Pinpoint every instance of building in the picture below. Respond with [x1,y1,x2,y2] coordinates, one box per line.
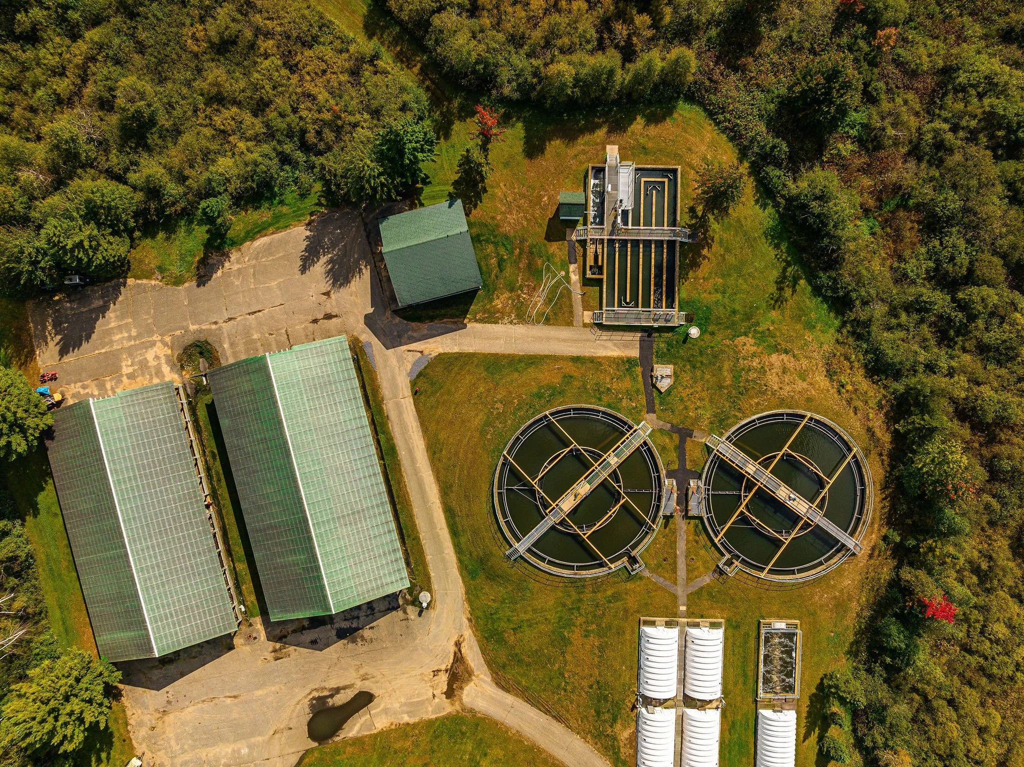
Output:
[42,381,248,666]
[378,199,482,307]
[559,192,586,222]
[207,335,410,622]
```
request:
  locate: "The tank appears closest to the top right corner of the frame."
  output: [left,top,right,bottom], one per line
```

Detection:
[574,145,697,330]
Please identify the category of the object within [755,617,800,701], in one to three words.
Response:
storage tank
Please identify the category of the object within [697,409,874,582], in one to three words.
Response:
storage tank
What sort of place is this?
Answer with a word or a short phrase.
industrial area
